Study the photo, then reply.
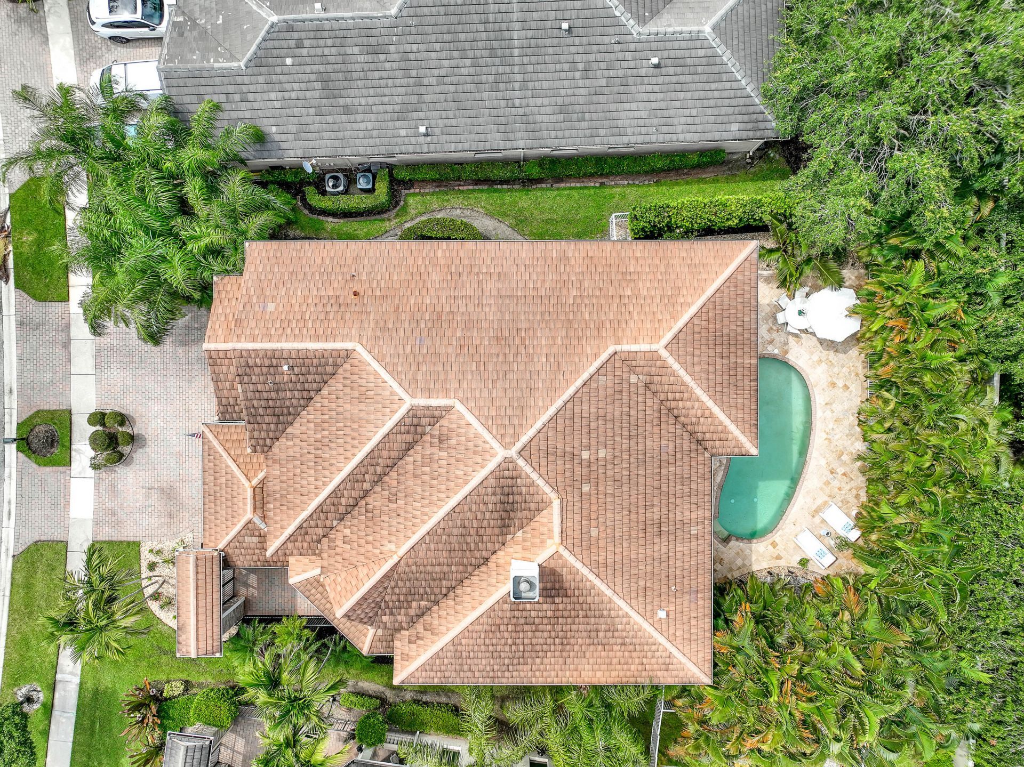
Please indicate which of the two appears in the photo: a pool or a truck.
pool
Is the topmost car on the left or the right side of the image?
left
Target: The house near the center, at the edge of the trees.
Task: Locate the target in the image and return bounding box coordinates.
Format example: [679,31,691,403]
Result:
[199,239,761,688]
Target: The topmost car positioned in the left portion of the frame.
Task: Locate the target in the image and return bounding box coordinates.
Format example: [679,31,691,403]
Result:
[81,0,166,45]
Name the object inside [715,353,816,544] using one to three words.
swimming pool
